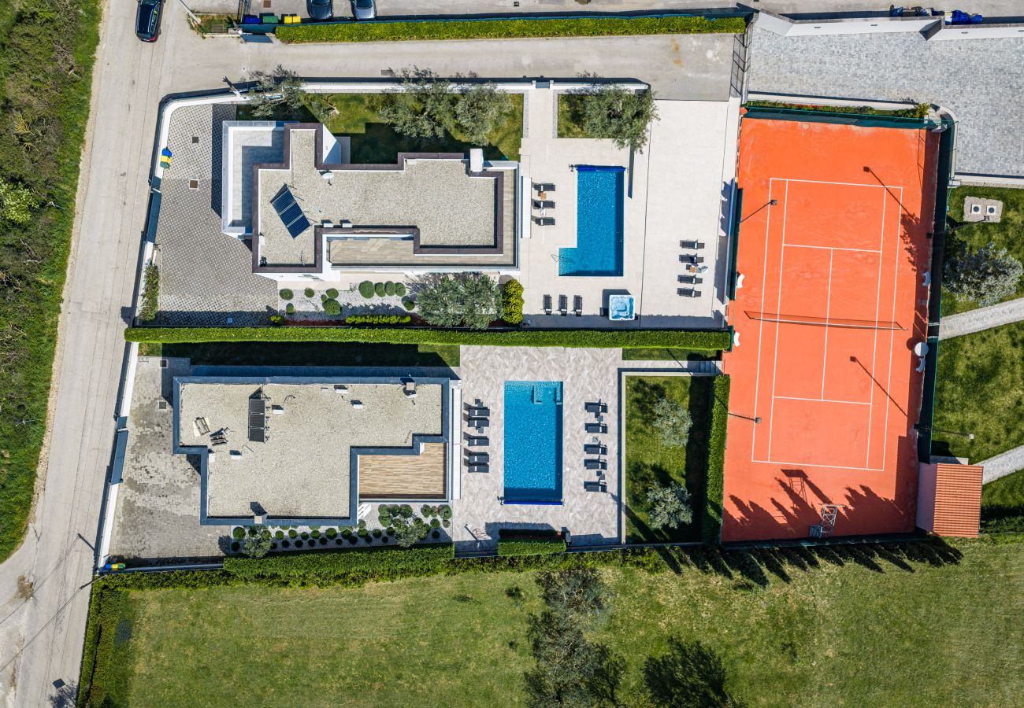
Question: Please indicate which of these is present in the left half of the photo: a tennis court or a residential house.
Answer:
residential house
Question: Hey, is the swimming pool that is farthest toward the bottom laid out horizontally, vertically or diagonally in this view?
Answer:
vertically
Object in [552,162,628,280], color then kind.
blue swimming pool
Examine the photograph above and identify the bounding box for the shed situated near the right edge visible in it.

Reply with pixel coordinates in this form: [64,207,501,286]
[917,462,983,538]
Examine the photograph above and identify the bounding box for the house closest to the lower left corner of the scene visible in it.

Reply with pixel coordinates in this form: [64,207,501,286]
[173,375,465,526]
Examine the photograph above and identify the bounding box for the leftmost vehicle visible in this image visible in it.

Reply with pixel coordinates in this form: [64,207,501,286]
[135,0,167,44]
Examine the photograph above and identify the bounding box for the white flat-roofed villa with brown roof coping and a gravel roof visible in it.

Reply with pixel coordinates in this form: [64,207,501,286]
[223,121,532,281]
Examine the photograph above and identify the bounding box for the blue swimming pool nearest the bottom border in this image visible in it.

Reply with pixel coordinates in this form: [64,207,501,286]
[501,378,566,508]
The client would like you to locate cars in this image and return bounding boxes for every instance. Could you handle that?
[308,0,332,19]
[352,0,375,19]
[135,0,167,44]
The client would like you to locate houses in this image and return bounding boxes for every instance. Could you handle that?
[173,375,465,526]
[223,121,532,281]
